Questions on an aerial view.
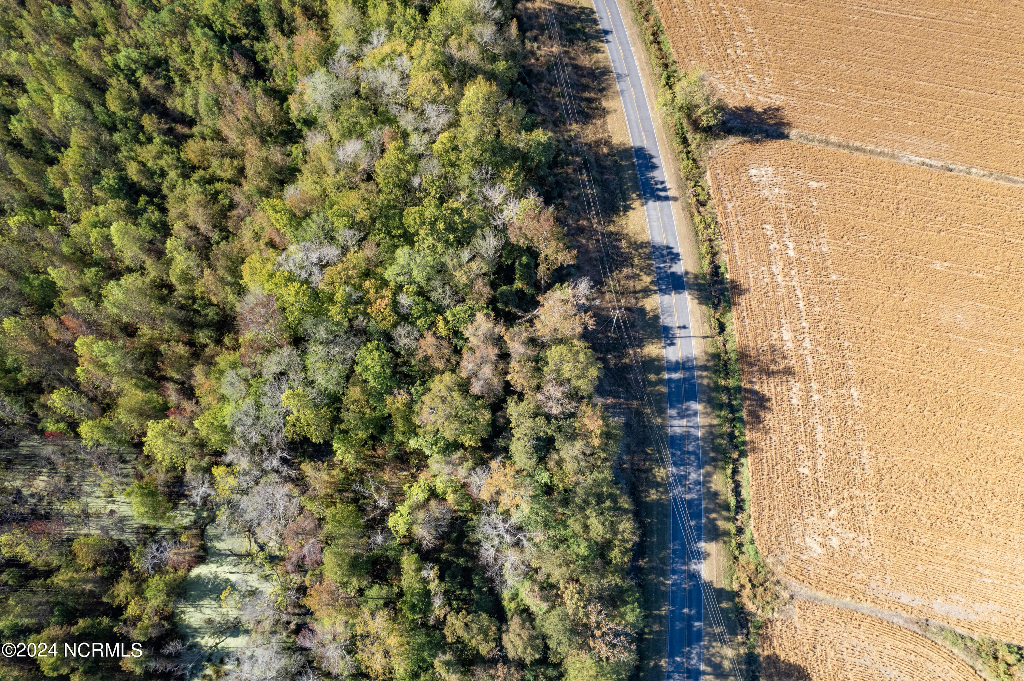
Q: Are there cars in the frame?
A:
No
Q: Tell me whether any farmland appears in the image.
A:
Yes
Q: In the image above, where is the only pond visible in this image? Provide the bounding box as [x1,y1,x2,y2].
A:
[0,435,293,681]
